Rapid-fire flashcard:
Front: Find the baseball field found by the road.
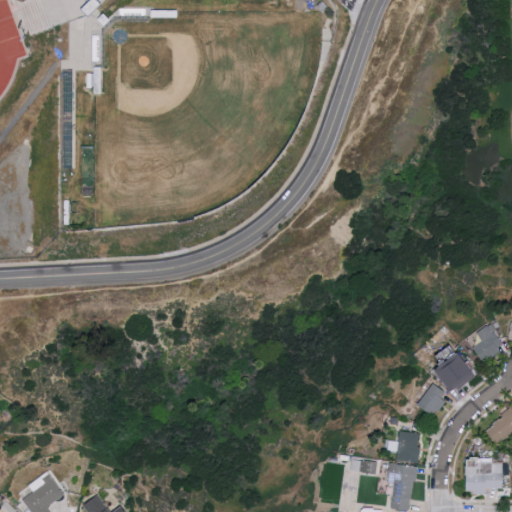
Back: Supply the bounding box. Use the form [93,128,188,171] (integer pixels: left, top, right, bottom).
[97,12,322,228]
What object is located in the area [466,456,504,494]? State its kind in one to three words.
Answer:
house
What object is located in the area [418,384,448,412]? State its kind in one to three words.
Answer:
house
